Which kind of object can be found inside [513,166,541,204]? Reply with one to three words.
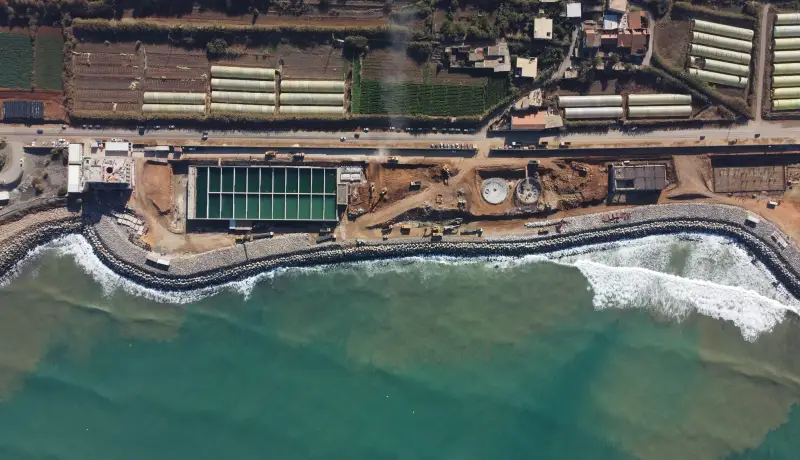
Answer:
storage tank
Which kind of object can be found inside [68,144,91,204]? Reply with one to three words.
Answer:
building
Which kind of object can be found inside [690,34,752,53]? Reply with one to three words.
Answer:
greenhouse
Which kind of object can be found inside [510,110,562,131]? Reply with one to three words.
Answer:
house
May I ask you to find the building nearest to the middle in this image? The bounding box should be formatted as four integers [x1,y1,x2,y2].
[338,166,362,205]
